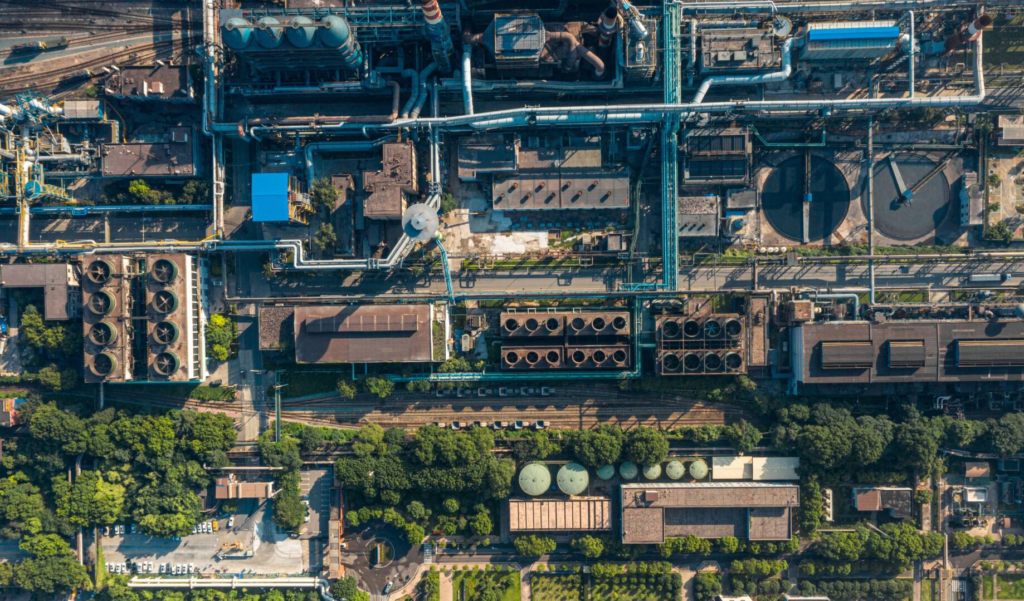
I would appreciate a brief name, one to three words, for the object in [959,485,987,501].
house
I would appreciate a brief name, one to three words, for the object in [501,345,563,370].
cooling tower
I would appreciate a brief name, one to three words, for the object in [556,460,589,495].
storage tank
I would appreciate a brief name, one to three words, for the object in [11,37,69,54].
rail car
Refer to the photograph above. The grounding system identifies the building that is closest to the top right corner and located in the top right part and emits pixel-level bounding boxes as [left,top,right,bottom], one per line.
[990,116,1024,147]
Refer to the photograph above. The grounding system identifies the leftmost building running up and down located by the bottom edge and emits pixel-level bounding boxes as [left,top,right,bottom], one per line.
[329,467,346,578]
